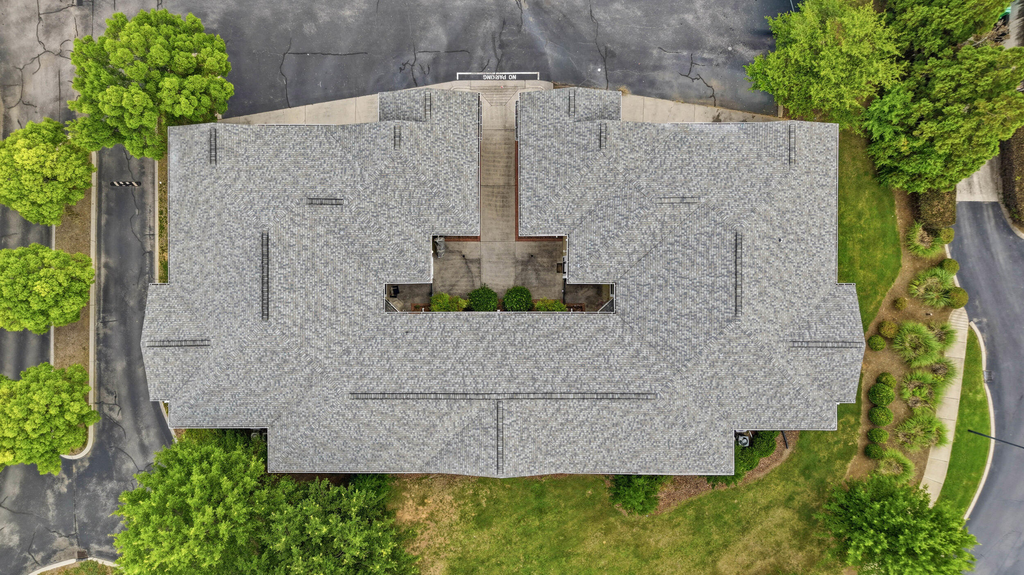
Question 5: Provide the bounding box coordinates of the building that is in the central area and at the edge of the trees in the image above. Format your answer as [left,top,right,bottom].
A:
[140,87,865,481]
